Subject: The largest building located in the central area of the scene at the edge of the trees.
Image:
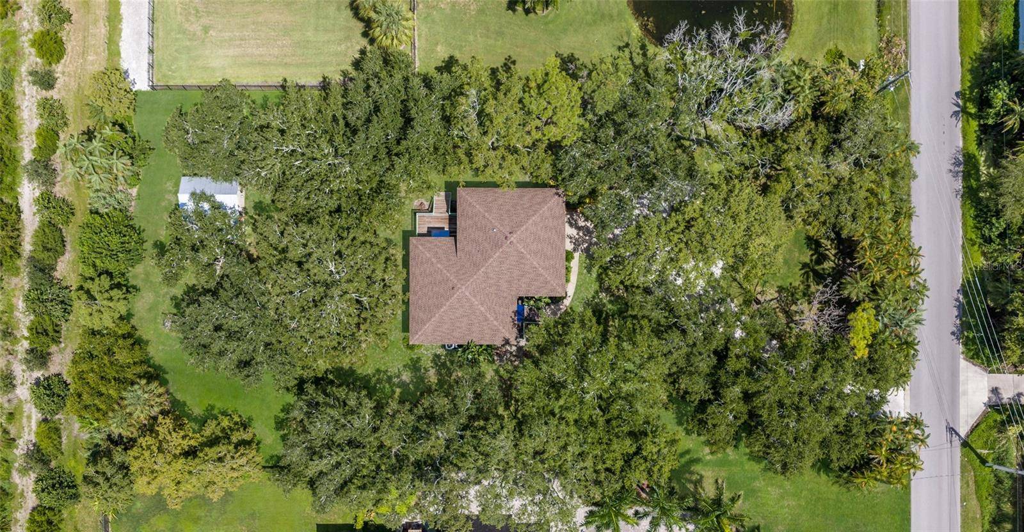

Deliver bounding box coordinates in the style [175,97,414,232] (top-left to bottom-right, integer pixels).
[409,187,566,346]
